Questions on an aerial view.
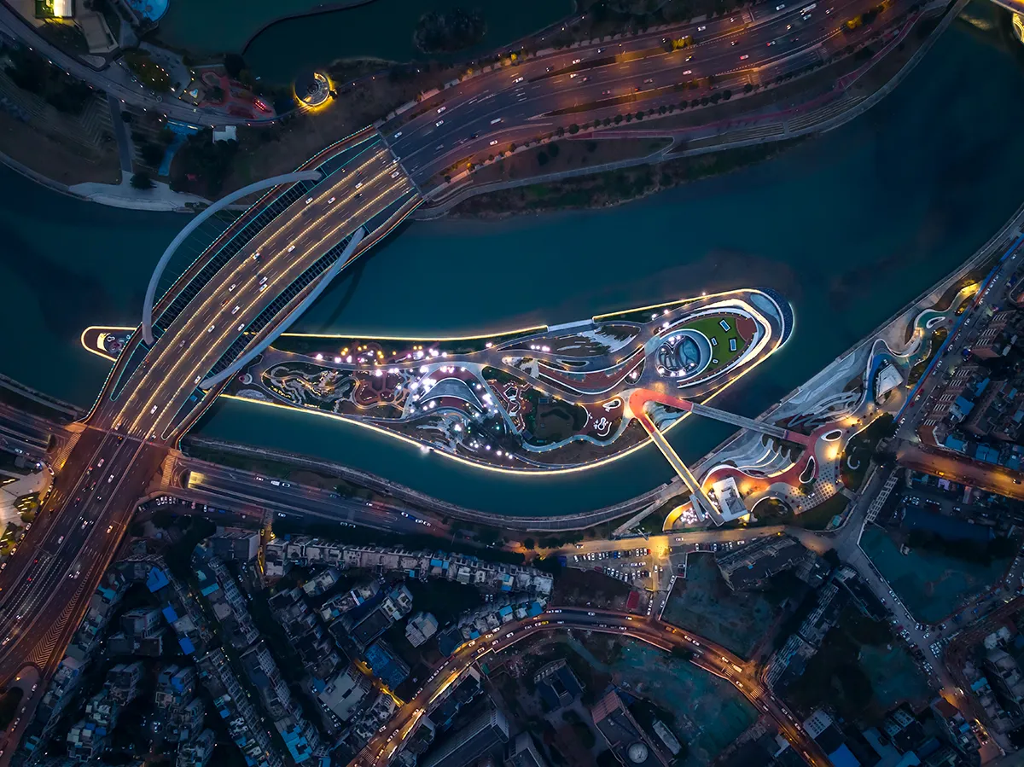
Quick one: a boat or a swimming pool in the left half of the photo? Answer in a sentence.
It is a swimming pool that can be seen in the left half of the photo.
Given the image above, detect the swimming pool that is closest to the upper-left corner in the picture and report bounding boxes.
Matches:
[124,0,171,22]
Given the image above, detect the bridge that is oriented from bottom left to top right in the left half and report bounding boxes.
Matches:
[80,124,425,451]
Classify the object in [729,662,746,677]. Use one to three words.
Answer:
vehicle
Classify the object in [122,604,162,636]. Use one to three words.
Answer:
building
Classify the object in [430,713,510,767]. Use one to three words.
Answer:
building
